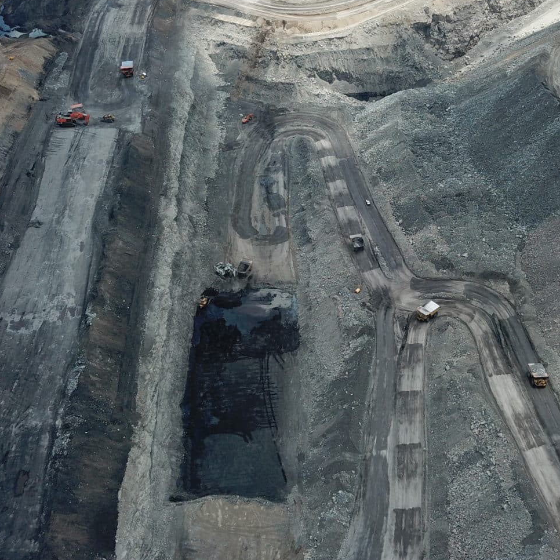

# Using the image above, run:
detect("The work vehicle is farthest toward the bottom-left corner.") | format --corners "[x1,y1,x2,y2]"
[198,292,213,308]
